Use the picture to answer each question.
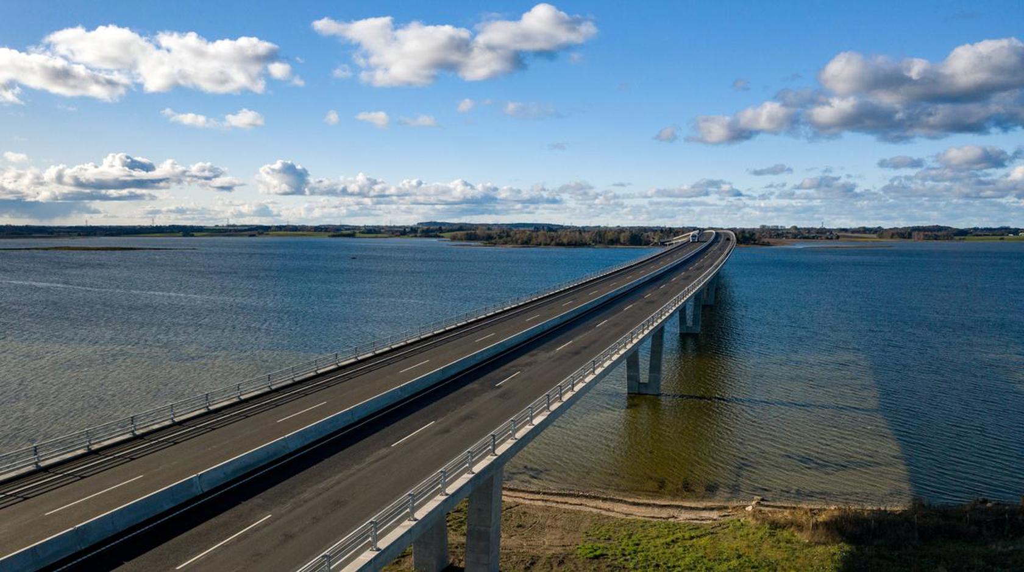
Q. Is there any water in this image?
Yes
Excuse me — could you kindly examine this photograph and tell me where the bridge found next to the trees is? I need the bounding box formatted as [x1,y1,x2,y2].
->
[0,231,737,572]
